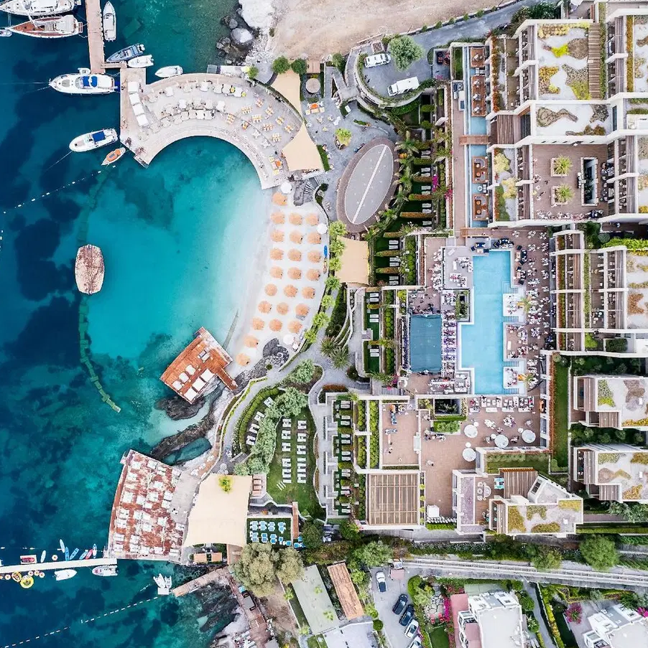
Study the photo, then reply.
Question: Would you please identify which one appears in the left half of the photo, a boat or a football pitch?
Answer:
boat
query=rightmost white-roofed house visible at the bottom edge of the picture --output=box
[578,594,648,648]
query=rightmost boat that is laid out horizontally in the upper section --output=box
[156,65,183,77]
